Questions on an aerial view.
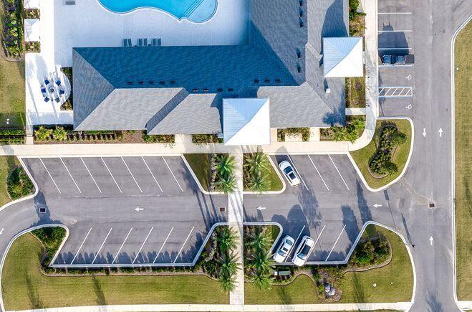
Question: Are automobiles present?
Yes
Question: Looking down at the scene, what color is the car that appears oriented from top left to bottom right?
white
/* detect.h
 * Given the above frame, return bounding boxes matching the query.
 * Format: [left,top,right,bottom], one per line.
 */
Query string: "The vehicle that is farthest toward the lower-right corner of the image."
[291,235,314,264]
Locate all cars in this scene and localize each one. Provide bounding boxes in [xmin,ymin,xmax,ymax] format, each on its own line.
[291,235,314,264]
[278,159,299,187]
[273,235,294,262]
[380,52,415,66]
